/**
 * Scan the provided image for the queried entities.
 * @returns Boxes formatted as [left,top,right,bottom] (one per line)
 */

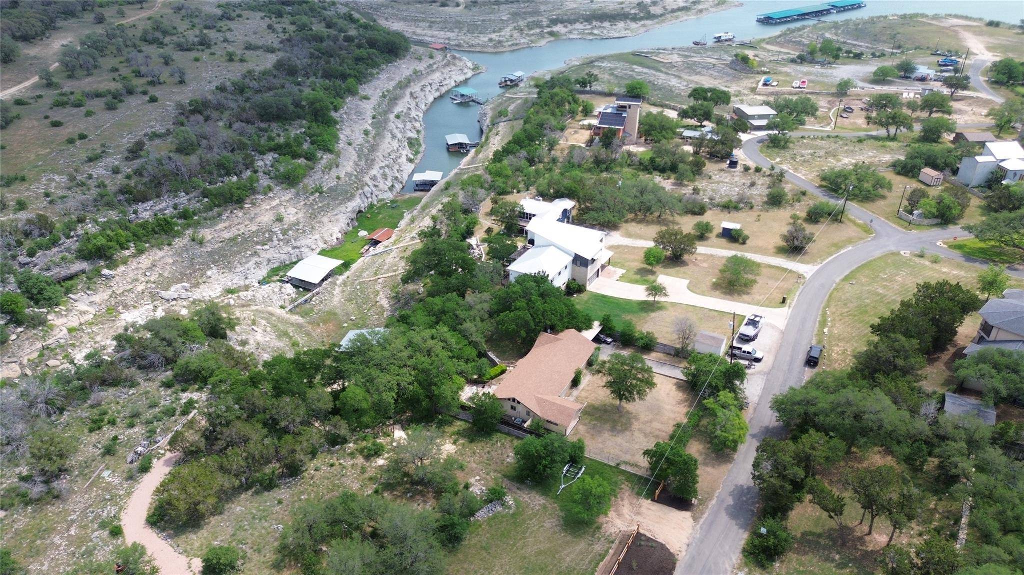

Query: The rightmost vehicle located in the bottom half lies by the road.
[807,345,824,364]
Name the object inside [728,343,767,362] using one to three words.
vehicle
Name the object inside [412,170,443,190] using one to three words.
pier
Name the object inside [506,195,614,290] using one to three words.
house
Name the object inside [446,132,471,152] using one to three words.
pier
